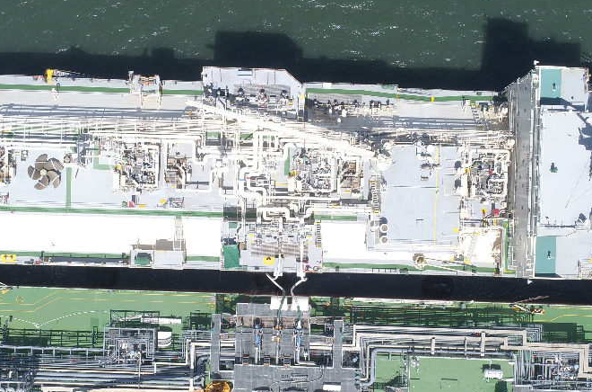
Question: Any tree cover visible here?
No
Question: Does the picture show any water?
Yes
